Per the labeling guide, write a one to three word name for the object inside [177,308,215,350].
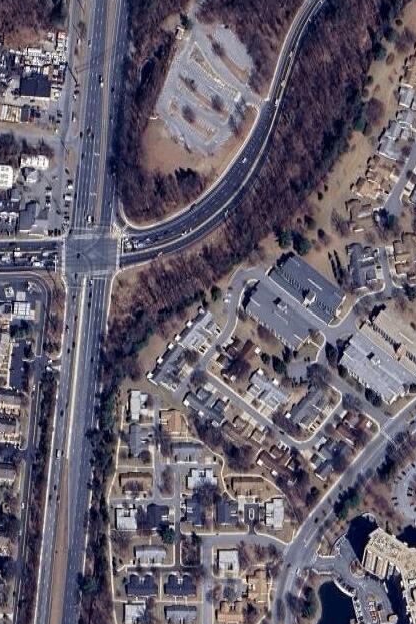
house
